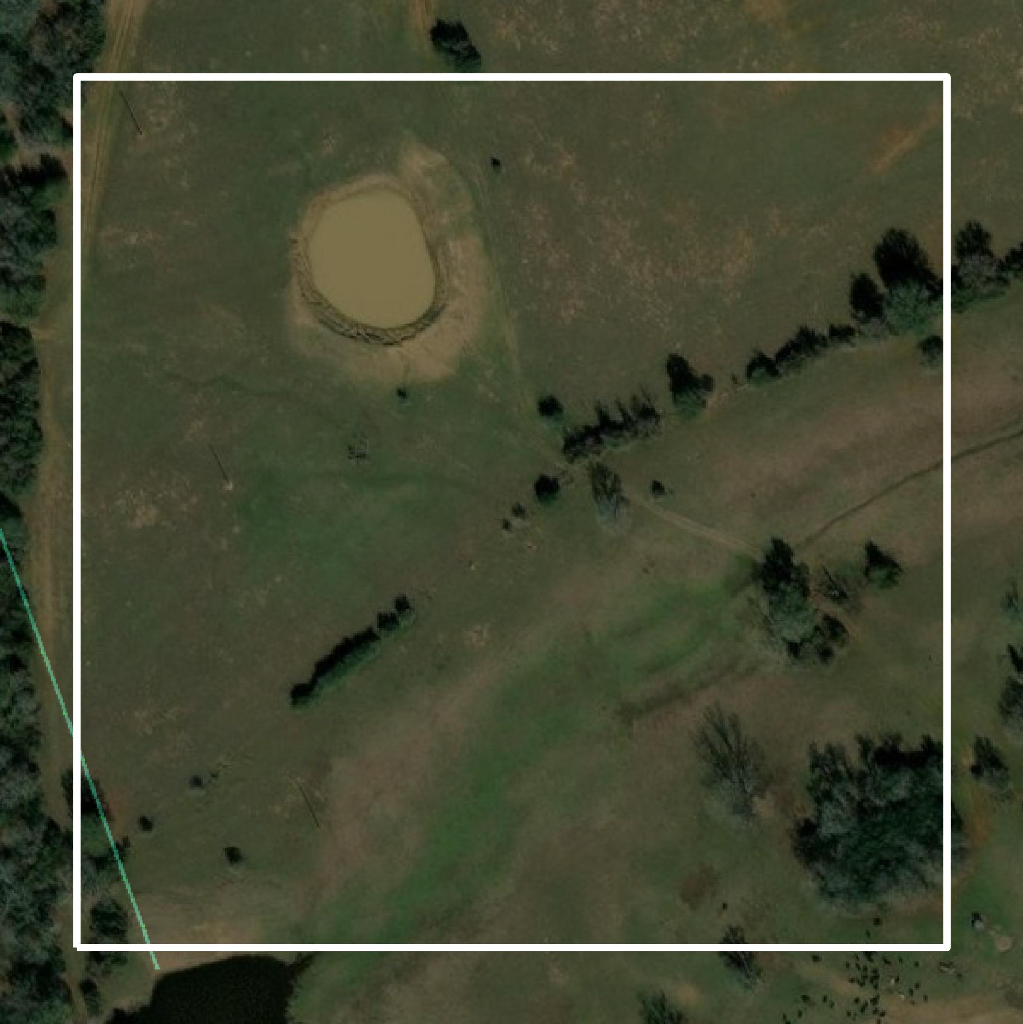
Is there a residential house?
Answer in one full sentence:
No, the picture doesn't show any residential house.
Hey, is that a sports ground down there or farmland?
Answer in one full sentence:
It's farmland.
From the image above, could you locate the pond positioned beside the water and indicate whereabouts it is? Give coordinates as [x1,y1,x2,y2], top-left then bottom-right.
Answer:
[307,190,437,330]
